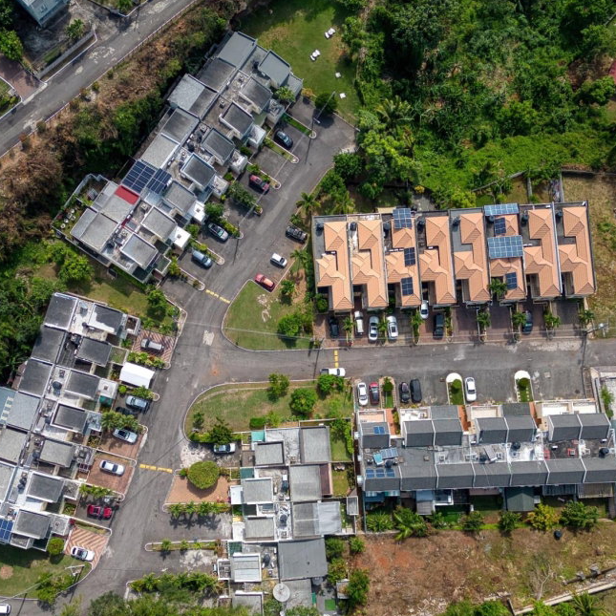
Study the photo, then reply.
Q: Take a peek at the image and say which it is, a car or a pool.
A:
car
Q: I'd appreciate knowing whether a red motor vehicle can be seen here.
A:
Yes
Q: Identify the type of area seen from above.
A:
residential area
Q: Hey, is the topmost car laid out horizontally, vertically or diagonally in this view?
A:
diagonally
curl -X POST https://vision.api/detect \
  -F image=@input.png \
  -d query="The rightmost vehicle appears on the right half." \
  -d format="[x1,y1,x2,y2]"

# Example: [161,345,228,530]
[521,311,534,334]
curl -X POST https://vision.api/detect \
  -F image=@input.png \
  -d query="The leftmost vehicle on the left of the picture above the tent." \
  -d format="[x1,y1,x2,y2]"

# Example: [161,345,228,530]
[141,337,165,353]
